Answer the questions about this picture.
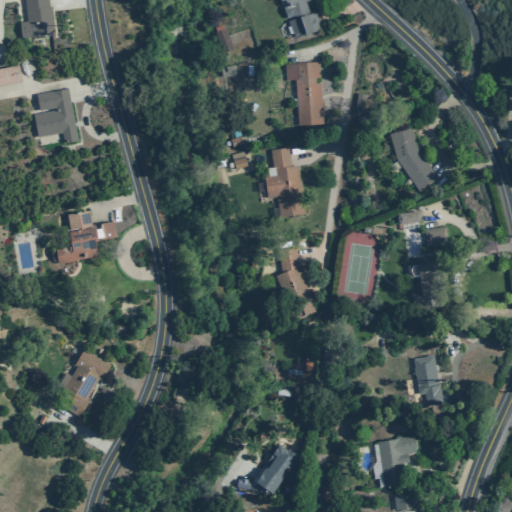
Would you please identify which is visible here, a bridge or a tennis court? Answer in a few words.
tennis court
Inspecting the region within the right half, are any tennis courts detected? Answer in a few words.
Yes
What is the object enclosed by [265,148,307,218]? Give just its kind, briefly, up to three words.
house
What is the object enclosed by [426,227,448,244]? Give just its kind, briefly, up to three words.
building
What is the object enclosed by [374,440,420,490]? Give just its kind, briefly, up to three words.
house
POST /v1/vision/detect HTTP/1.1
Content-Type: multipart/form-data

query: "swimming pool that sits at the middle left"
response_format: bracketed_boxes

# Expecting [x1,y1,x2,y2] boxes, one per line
[18,242,34,270]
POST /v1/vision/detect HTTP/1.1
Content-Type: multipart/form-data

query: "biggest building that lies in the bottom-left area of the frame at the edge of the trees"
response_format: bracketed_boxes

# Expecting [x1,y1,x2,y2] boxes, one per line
[60,352,110,420]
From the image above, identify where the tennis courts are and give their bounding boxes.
[338,232,376,301]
